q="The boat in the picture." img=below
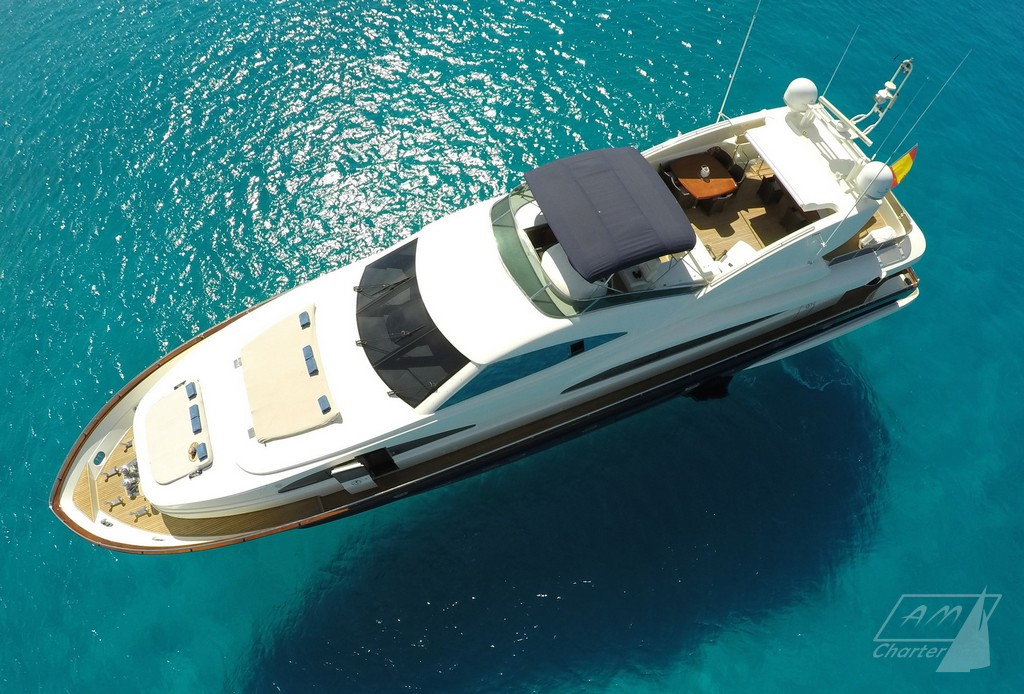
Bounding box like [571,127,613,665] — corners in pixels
[48,0,970,557]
